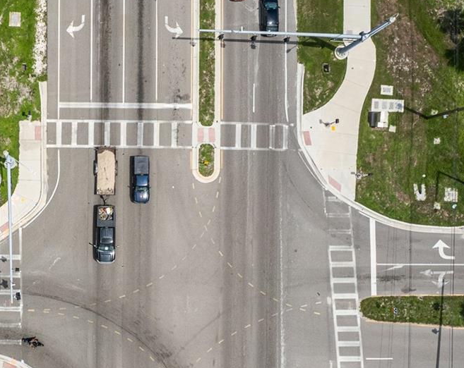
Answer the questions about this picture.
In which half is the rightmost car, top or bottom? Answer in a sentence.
Seen from above, the rightmost car lies in the top half of the view.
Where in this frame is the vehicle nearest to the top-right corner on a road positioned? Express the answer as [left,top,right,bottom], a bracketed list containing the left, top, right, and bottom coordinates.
[259,0,282,39]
